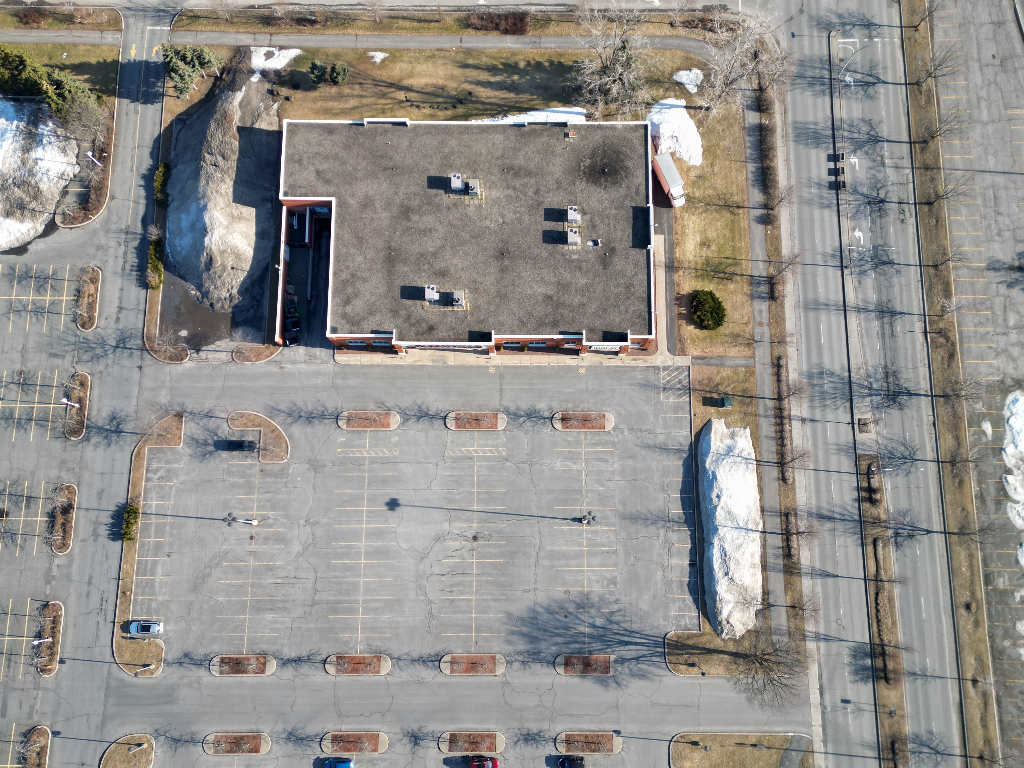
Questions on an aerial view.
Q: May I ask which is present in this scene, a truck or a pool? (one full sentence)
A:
Looking from above, you can make out a truck.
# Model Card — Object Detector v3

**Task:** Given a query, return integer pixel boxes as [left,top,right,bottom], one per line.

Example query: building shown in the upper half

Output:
[278,116,660,356]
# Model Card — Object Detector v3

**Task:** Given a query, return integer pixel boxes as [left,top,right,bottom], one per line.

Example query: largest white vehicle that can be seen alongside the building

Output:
[652,151,689,211]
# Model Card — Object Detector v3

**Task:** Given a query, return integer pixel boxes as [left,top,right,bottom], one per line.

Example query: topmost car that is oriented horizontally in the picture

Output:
[228,438,259,453]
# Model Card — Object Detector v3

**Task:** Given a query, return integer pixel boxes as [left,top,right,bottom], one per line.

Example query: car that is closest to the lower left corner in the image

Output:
[129,620,164,637]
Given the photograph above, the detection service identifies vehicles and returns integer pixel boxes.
[324,758,355,768]
[468,757,501,768]
[557,756,587,768]
[652,151,689,211]
[129,620,164,637]
[228,438,259,453]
